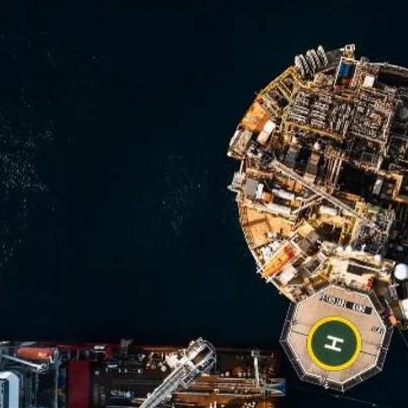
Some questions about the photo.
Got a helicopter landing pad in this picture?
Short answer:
Yes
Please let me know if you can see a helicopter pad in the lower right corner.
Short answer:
Yes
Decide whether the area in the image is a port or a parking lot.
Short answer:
port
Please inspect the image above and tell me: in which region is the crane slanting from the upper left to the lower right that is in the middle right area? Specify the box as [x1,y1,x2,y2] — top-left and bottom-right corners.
[251,141,388,237]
